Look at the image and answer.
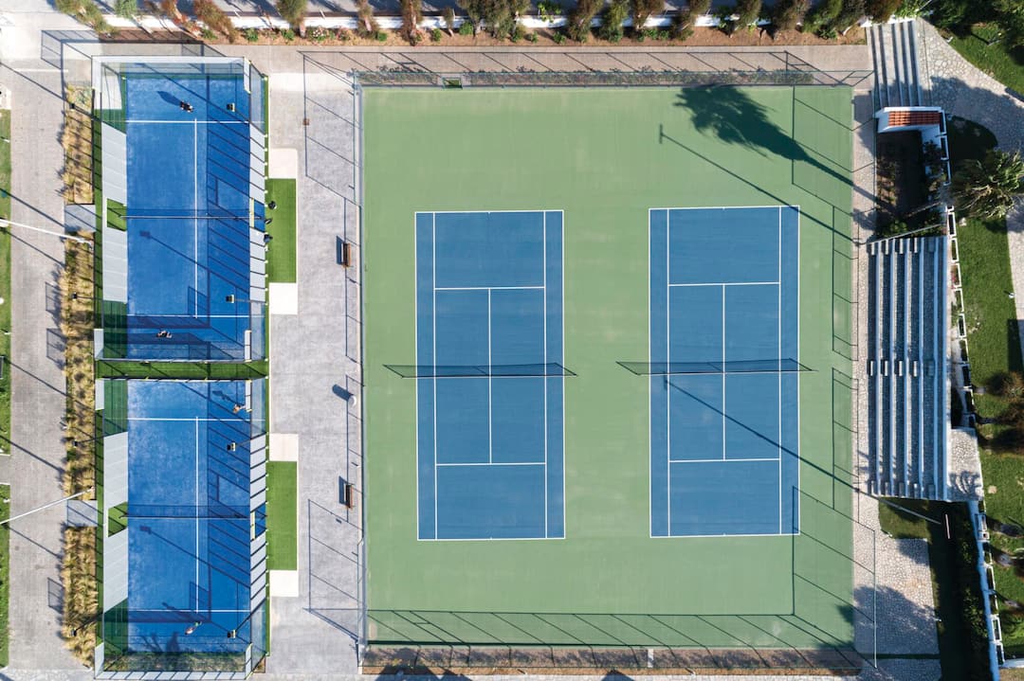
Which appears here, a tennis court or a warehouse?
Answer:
tennis court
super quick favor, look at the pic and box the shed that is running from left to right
[870,108,932,137]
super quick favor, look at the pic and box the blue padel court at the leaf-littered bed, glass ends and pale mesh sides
[95,377,272,680]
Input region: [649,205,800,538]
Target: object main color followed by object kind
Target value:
blue tennis court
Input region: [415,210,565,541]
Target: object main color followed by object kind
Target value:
blue tennis court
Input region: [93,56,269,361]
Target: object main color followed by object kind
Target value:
blue sports court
